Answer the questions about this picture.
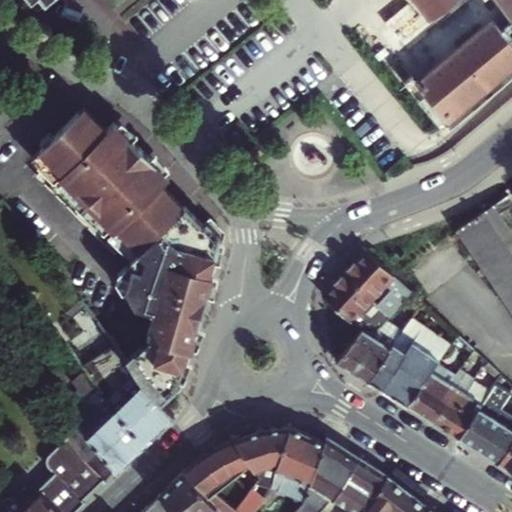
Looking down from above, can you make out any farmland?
No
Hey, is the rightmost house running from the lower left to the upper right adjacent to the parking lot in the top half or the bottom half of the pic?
top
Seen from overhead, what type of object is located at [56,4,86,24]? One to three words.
vehicle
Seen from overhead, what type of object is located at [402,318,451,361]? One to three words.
building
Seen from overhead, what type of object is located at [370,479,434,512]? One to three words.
house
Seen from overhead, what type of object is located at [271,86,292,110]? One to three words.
car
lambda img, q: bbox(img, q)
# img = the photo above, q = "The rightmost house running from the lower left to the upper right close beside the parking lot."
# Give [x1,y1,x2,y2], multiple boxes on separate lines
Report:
[420,6,512,127]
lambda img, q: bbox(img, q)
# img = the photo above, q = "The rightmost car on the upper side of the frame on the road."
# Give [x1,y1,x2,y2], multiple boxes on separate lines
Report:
[420,174,446,190]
